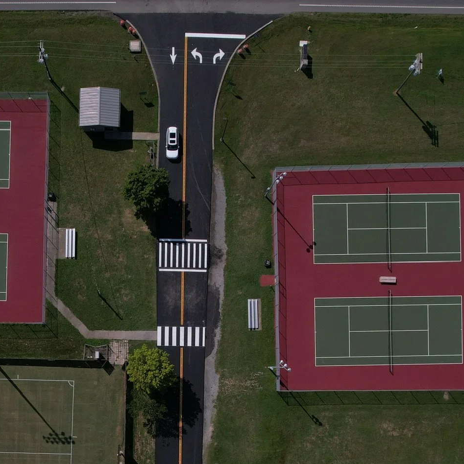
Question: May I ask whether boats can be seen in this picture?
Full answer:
No, no boat is visible in the scene.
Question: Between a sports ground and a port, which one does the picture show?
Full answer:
This image shows a sports ground.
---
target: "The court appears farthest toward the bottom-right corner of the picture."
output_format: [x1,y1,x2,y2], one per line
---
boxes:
[273,166,464,390]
